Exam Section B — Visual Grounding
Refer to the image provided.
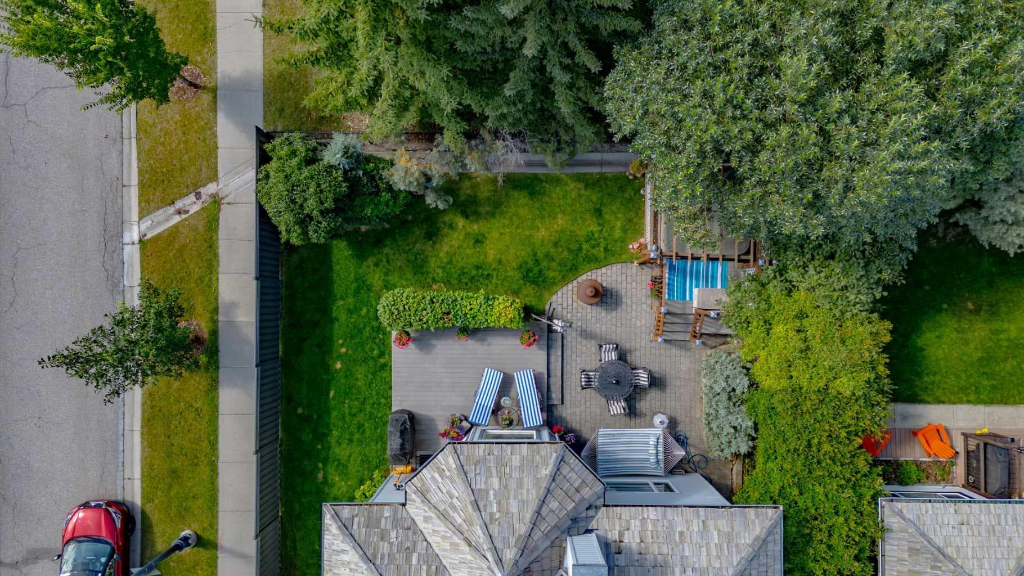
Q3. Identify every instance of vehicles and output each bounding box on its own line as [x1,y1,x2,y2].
[49,497,134,576]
